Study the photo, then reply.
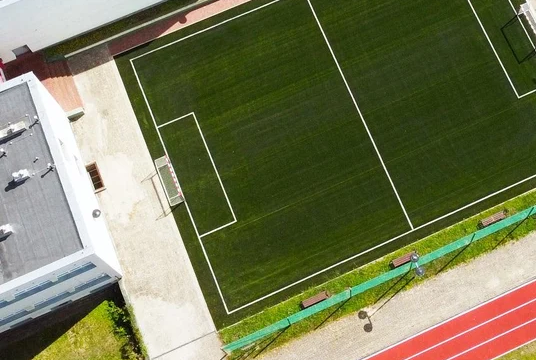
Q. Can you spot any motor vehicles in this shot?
No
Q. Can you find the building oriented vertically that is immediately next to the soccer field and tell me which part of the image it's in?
left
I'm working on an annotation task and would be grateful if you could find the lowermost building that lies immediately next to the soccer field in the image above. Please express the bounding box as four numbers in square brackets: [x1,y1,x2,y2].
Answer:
[0,69,120,337]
